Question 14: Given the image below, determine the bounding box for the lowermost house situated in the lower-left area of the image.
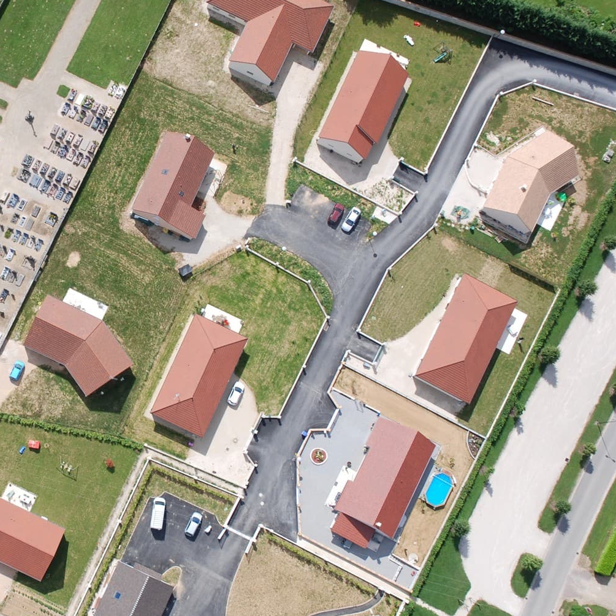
[95,562,174,616]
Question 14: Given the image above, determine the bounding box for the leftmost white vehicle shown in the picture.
[151,498,167,531]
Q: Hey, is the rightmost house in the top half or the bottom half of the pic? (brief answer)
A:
top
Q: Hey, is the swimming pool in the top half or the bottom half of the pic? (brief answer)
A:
bottom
